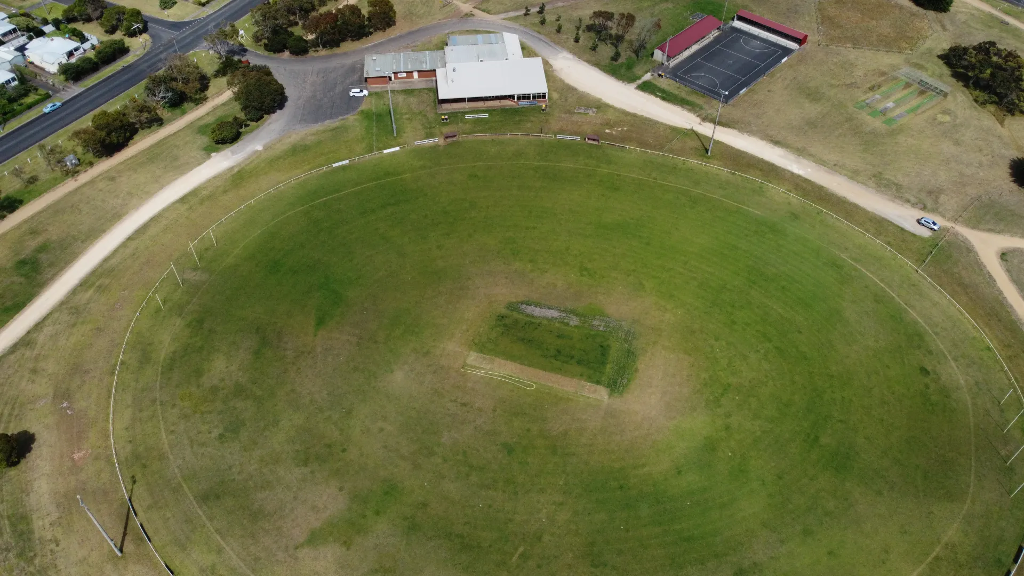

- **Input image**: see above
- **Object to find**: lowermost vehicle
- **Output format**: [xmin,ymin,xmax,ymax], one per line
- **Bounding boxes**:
[918,216,941,231]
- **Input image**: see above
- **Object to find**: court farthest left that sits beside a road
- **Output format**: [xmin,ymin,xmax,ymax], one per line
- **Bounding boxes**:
[662,25,795,101]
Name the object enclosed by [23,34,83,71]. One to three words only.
house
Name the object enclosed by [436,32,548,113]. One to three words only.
building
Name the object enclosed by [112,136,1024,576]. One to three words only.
sports field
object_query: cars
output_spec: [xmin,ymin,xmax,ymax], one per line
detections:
[918,216,941,231]
[42,103,62,113]
[349,89,368,97]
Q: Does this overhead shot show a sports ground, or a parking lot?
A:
sports ground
